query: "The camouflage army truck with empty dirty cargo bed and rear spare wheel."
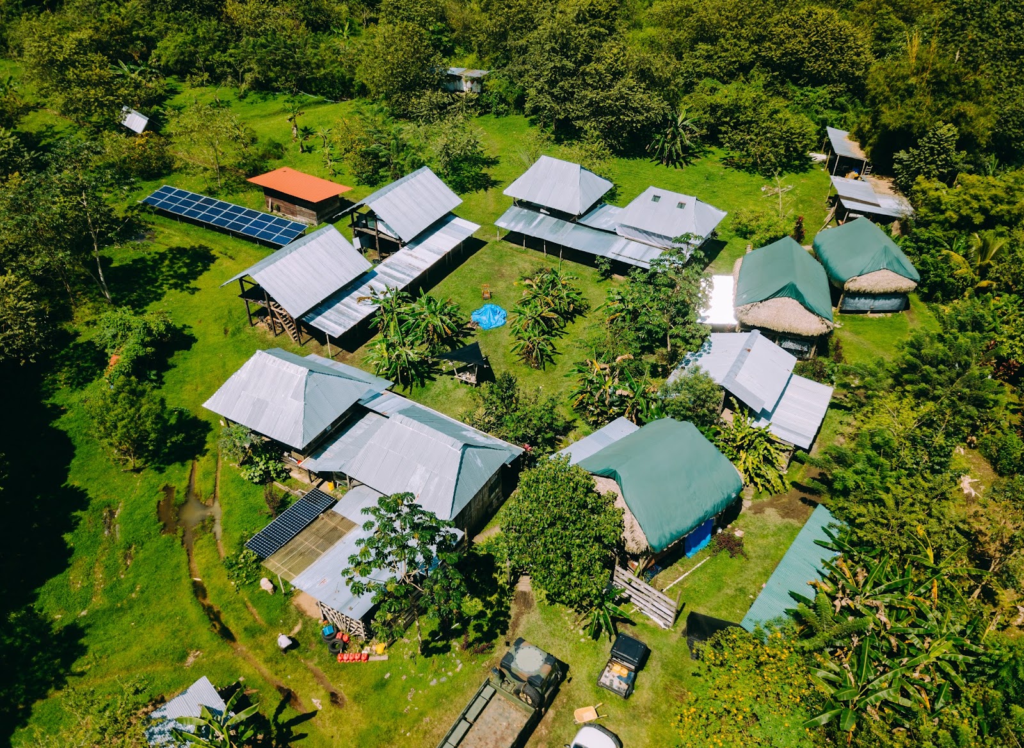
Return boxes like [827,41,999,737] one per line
[439,633,575,748]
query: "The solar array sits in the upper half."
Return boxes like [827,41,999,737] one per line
[142,185,308,250]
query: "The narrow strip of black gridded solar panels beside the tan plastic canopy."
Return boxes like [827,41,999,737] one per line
[245,489,336,577]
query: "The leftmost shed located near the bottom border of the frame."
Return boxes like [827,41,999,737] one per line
[147,676,234,748]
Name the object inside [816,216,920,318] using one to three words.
shed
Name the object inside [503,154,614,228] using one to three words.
house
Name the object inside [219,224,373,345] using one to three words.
house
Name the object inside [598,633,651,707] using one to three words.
truck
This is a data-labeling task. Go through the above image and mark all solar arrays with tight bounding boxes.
[245,489,336,577]
[142,185,308,250]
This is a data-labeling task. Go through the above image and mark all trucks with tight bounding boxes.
[598,633,651,707]
[439,633,575,748]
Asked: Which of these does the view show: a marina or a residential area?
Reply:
residential area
